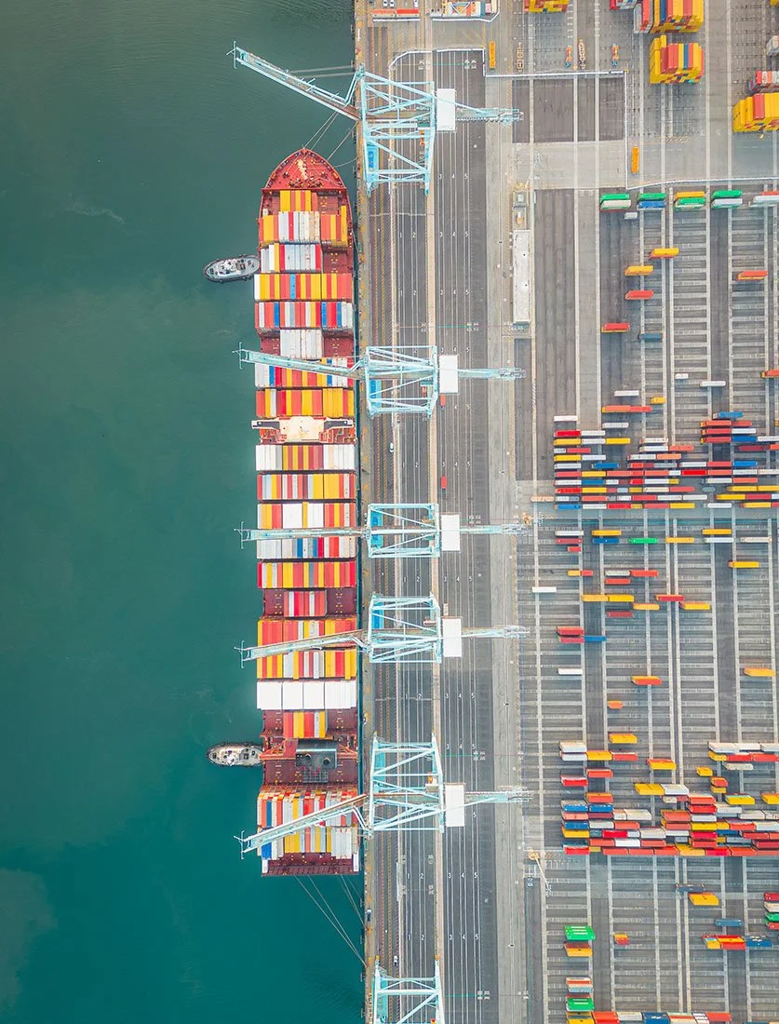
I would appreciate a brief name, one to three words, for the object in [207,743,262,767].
boat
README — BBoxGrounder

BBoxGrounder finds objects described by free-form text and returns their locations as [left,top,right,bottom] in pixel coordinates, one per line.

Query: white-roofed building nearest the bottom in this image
[506,228,531,329]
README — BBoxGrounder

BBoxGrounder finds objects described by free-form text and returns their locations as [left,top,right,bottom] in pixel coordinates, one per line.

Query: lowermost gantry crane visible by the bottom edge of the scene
[371,960,445,1024]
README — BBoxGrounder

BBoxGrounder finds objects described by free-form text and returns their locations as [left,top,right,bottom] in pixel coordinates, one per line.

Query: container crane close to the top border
[227,37,521,194]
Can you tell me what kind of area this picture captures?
port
